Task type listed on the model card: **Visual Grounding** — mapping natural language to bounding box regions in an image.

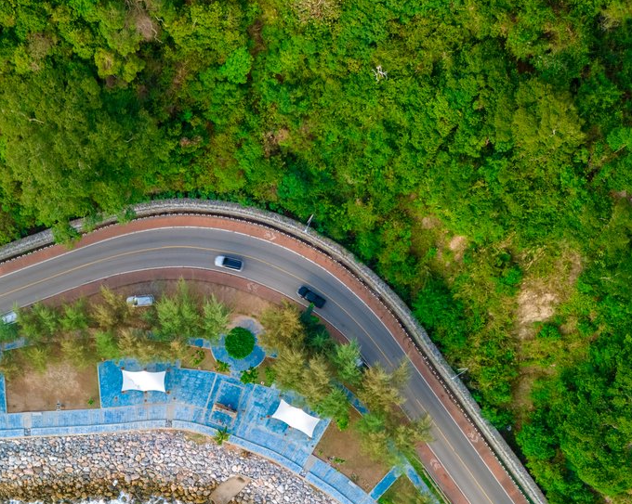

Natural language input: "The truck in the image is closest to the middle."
[296,285,327,310]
